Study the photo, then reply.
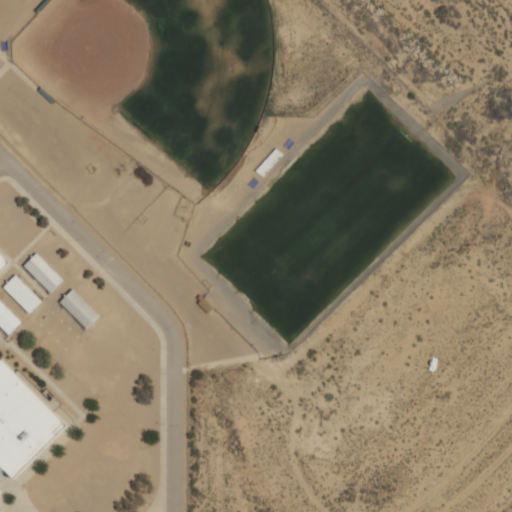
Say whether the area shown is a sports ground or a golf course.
sports ground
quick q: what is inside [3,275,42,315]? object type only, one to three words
building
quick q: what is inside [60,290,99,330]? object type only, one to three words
building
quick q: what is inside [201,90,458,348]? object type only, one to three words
sports field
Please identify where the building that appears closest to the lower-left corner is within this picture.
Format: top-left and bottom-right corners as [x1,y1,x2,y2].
[0,360,67,480]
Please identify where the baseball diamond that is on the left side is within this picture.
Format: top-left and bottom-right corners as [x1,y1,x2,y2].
[12,0,272,204]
